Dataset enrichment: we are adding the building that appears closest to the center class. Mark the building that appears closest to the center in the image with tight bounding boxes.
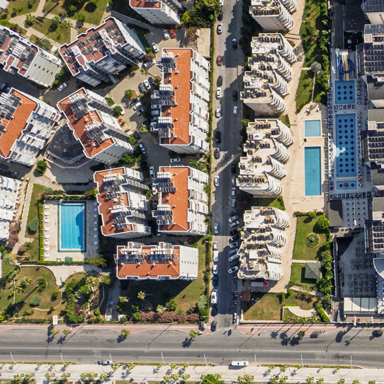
[155,167,209,235]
